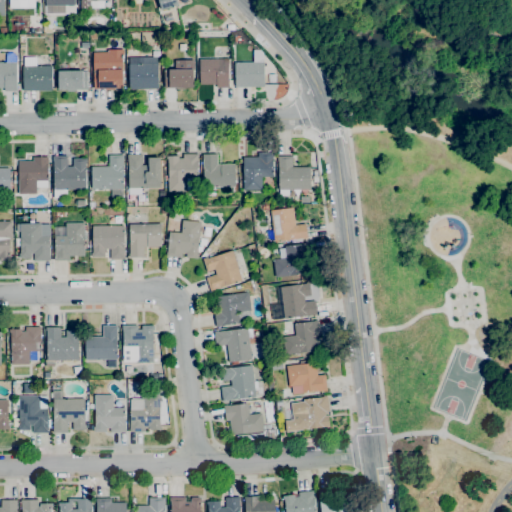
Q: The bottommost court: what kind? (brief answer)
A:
basketball court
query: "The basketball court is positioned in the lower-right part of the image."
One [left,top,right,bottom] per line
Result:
[430,346,488,422]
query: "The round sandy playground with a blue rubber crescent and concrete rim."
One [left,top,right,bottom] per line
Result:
[424,215,470,260]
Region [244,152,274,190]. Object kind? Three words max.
house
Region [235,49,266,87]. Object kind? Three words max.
house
